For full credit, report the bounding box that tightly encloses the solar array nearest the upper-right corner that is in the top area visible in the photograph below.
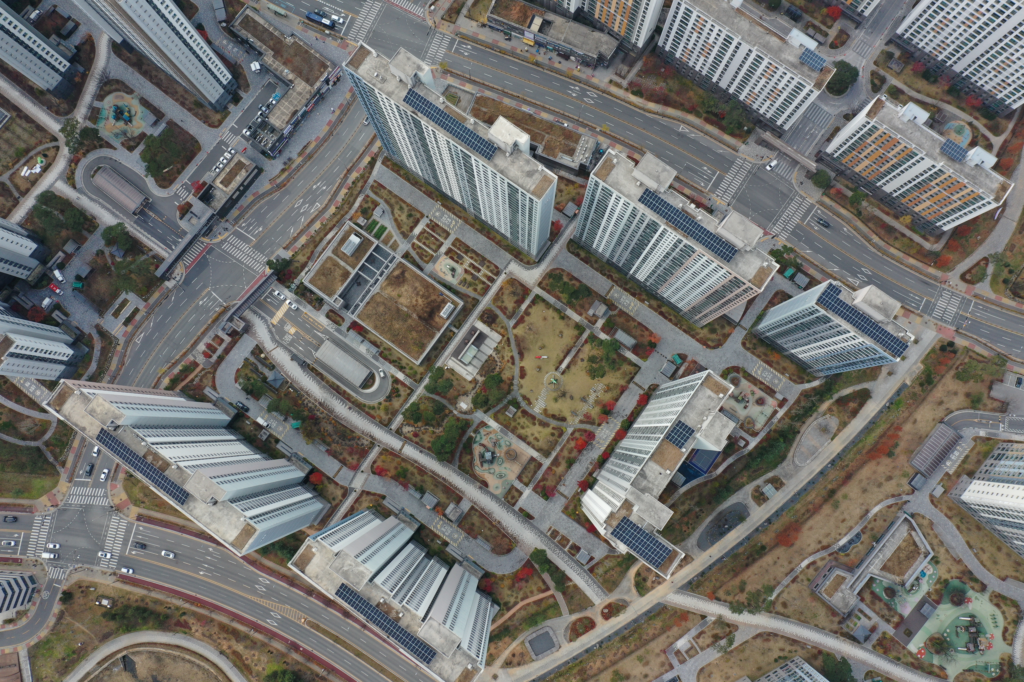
[937,139,967,163]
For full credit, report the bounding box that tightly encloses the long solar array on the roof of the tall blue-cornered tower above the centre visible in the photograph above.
[402,88,497,162]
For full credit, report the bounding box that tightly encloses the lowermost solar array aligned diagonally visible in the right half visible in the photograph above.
[609,515,672,568]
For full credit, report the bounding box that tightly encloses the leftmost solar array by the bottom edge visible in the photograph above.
[334,582,437,664]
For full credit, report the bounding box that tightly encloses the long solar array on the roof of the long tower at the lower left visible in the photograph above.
[96,427,191,507]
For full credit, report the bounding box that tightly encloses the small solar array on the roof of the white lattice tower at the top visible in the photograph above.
[797,51,826,73]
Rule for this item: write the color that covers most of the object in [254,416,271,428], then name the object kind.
white vehicle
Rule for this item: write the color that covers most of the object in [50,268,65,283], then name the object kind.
white vehicle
